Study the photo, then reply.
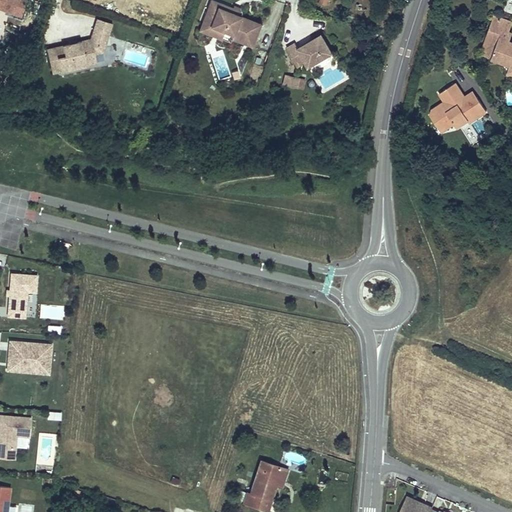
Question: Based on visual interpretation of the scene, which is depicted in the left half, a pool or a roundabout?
pool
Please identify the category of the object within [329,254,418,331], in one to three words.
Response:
roundabout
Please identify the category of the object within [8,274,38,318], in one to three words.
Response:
house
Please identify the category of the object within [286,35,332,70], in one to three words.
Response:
house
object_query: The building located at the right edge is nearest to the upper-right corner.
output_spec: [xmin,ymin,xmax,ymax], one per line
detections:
[484,16,512,78]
